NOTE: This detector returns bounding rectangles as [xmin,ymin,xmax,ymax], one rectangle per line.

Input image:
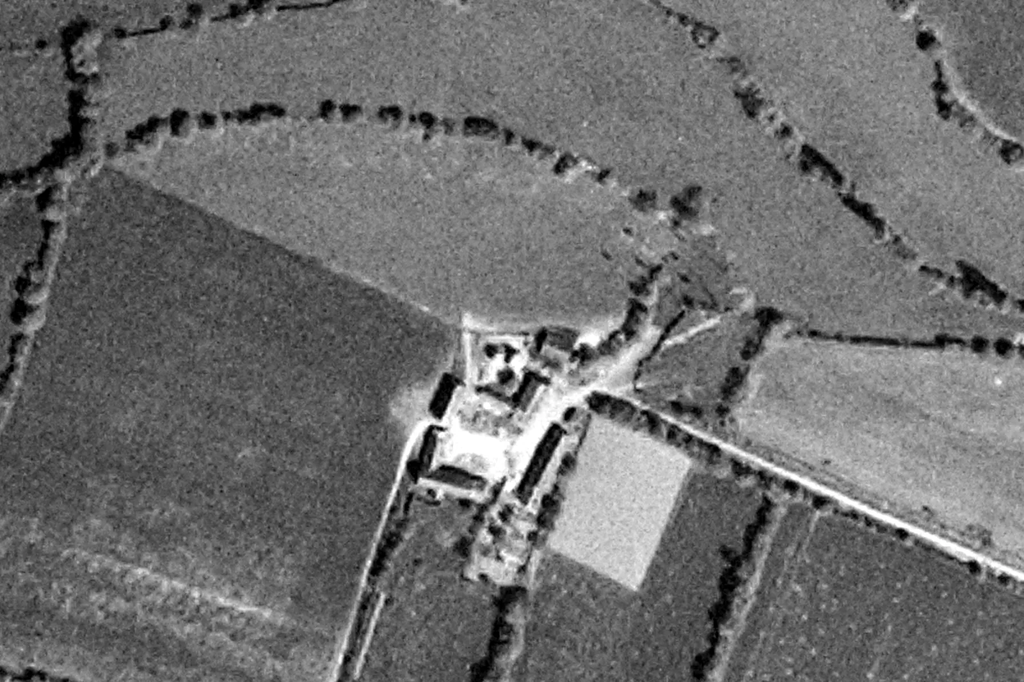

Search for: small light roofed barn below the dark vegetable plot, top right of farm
[540,341,571,363]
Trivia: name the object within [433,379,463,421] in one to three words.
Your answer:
barn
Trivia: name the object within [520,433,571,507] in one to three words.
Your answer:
shed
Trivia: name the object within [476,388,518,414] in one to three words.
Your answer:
shed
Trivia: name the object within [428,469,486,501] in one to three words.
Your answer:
barn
